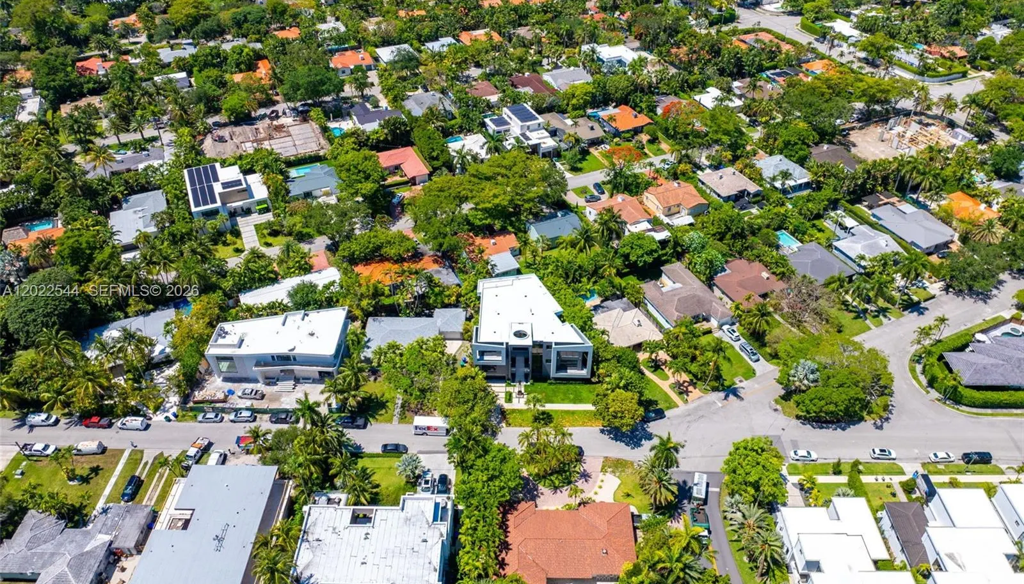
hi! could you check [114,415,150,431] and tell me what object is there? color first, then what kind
white vehicle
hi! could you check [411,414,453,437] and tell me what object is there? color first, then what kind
white truck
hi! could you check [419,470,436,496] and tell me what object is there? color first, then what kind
white car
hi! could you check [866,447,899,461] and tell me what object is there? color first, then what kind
white car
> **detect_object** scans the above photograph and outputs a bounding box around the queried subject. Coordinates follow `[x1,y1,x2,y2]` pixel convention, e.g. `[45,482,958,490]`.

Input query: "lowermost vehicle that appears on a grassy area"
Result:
[115,476,148,503]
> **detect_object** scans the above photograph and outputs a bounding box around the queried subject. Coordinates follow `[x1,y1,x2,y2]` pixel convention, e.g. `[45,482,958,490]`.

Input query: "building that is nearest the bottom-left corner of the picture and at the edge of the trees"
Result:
[0,505,154,584]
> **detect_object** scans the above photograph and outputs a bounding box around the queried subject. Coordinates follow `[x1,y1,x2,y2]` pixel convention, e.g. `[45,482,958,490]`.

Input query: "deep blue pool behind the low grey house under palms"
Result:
[169,295,199,319]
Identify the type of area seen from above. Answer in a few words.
residential area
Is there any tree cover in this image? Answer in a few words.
Yes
